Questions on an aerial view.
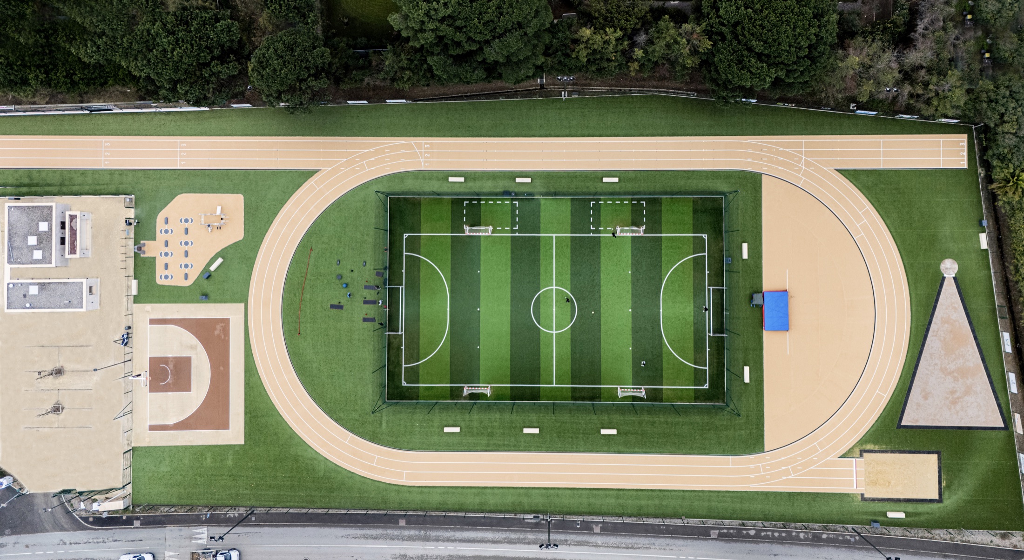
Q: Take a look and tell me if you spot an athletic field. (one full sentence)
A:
Yes, looking at the shot, I can spot an athletic field.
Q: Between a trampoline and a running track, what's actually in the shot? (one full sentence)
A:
The image shows a running track.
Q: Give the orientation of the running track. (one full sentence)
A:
What the image shows is the running track lying horizontally.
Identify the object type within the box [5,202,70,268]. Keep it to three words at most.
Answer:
building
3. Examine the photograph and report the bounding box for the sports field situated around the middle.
[386,197,725,404]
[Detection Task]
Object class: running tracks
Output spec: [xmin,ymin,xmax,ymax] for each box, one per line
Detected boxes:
[247,169,911,490]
